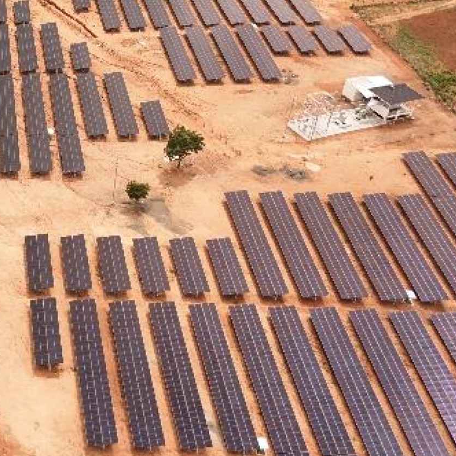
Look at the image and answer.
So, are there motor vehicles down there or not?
No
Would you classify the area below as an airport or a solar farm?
solar farm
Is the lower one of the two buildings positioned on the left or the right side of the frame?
right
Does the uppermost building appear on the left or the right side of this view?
right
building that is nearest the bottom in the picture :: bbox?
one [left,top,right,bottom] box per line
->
[362,98,398,124]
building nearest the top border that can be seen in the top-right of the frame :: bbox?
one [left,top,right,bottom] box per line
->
[343,72,396,108]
